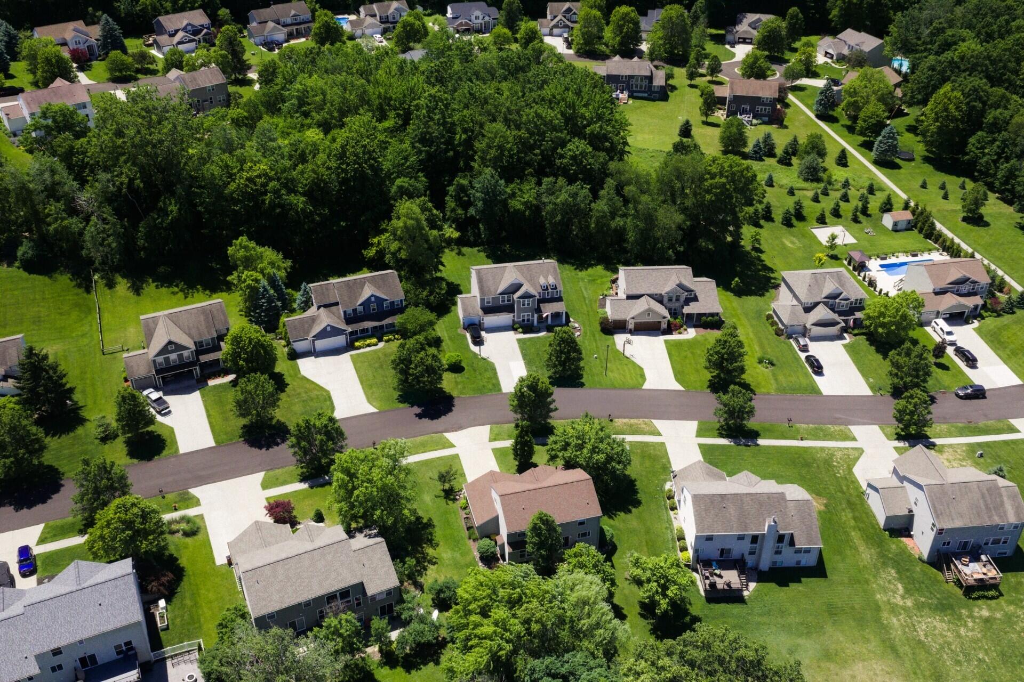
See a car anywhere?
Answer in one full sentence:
Yes, there's a car down there.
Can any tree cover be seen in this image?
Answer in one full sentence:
Yes, tree cover can be seen from above here.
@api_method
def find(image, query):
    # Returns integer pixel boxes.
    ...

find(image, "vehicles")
[955,346,981,365]
[804,354,827,372]
[263,40,274,49]
[274,40,283,47]
[4,86,23,95]
[143,391,169,413]
[467,324,482,341]
[374,34,382,41]
[934,316,956,338]
[790,333,810,350]
[956,383,990,400]
[0,557,17,583]
[565,39,573,47]
[561,32,569,39]
[15,543,36,576]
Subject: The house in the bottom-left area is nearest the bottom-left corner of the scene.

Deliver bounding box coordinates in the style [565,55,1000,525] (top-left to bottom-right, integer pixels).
[0,555,154,682]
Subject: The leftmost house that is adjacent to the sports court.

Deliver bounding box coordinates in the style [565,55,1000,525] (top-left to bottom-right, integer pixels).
[772,268,870,338]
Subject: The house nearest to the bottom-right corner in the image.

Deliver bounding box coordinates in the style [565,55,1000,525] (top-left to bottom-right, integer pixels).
[863,441,1024,563]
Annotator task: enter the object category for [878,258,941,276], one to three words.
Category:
swimming pool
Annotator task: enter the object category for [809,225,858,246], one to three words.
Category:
sports court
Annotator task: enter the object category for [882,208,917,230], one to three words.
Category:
shed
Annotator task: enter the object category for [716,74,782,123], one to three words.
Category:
house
